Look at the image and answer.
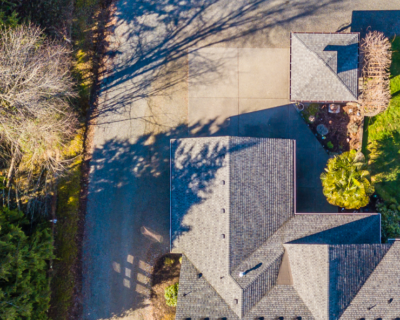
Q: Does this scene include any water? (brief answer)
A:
No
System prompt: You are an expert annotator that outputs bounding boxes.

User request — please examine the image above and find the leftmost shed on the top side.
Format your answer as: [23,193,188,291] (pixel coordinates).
[289,30,362,104]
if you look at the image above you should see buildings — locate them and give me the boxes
[168,136,400,320]
[289,30,362,104]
